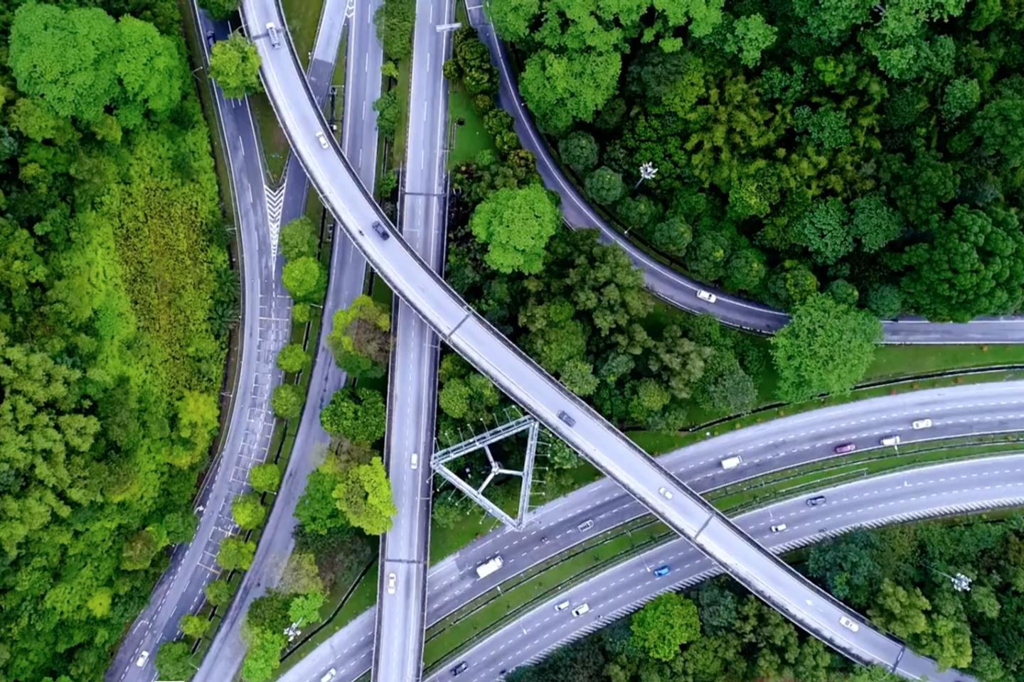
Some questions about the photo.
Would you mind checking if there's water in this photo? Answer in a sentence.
No, no water is visible.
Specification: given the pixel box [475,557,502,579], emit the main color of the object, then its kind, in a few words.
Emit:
white truck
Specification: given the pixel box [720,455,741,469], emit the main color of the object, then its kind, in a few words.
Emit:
white vehicle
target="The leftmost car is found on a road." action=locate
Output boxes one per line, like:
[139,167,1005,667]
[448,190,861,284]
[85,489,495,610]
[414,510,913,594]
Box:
[137,650,150,667]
